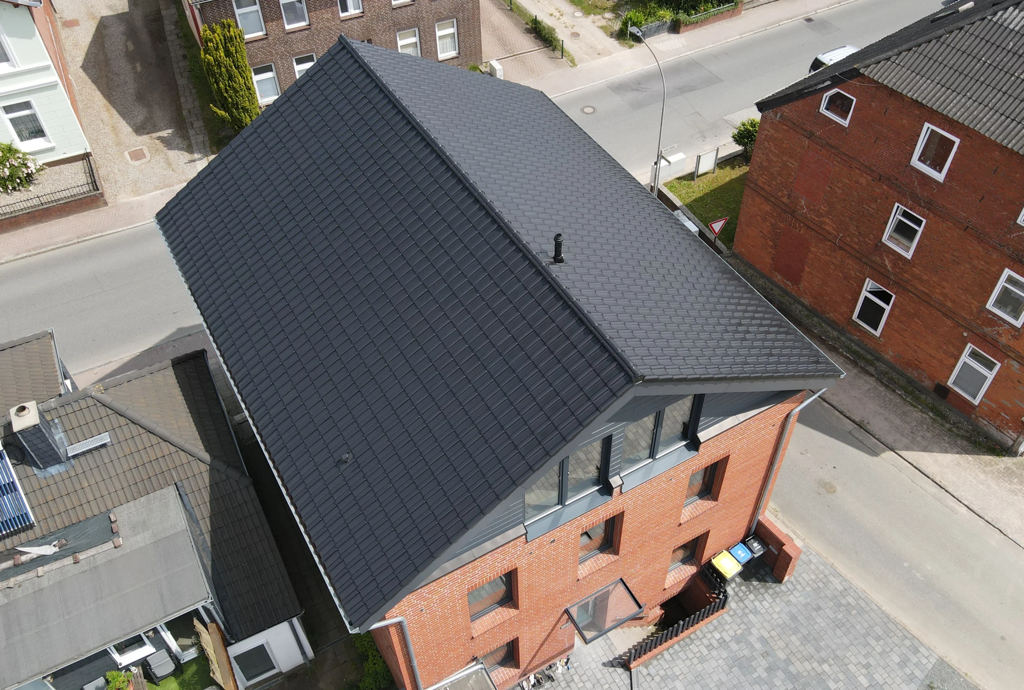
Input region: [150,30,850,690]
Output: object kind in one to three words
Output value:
house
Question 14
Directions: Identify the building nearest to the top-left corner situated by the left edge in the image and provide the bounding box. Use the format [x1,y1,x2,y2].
[0,0,90,177]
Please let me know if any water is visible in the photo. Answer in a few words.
No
